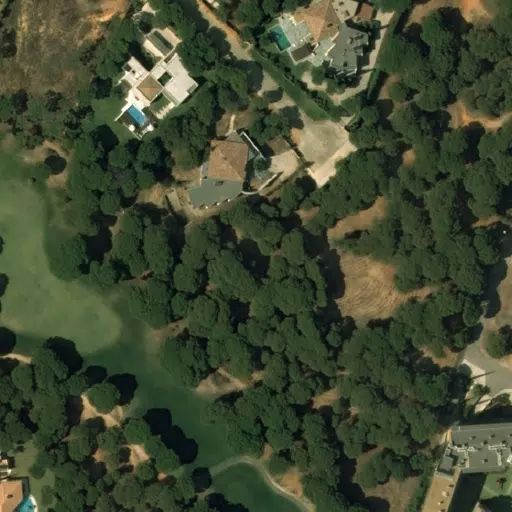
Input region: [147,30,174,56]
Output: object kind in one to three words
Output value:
building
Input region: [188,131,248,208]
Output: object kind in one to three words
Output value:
house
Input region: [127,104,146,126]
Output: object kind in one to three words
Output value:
swimming pool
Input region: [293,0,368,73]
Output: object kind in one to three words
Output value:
house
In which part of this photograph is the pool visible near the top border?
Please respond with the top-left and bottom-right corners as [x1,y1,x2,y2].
[268,24,290,51]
